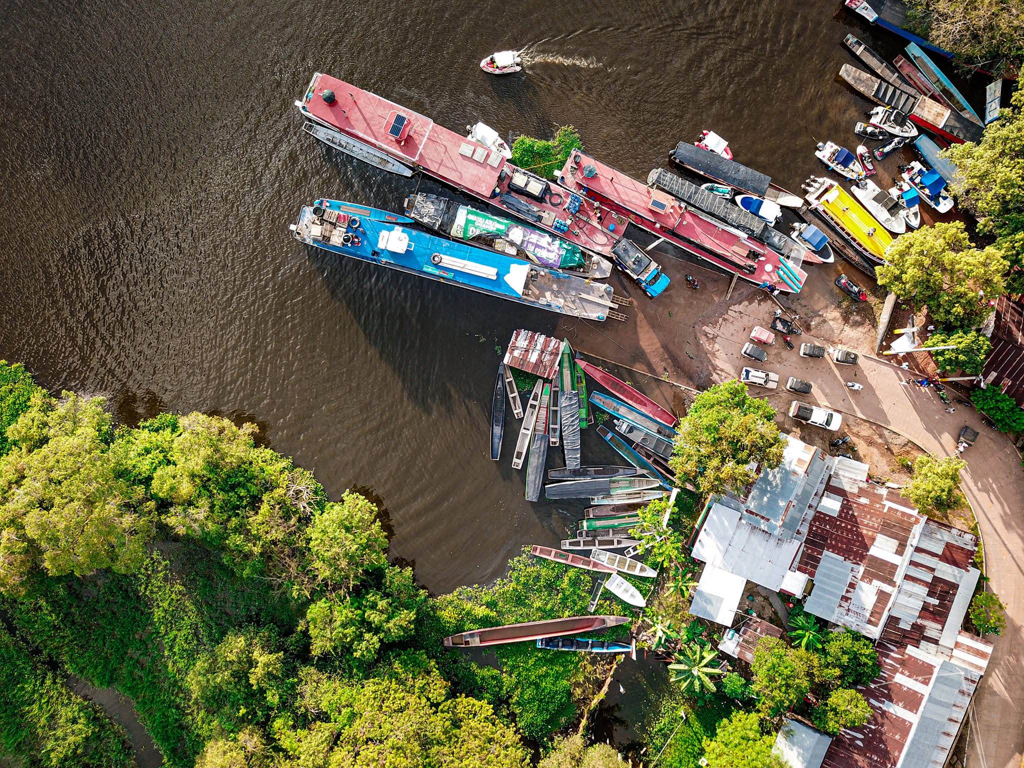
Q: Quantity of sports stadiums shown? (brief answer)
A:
0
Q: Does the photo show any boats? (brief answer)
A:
Yes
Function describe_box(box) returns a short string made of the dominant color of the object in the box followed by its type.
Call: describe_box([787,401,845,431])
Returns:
white truck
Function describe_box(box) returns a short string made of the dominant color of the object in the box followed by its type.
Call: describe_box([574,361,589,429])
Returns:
green boat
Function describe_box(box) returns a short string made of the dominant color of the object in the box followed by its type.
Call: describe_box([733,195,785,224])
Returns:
white boat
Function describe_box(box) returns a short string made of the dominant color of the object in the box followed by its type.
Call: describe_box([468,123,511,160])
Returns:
white boat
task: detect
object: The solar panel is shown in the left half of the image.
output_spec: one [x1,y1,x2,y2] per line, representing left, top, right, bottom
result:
[389,114,408,138]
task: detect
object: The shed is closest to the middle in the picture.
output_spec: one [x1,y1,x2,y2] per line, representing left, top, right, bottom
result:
[501,325,568,382]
